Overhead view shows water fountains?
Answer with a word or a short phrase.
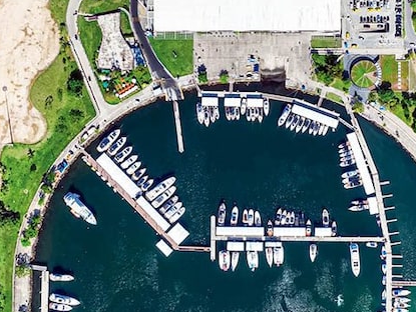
No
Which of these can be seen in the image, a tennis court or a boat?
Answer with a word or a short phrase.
boat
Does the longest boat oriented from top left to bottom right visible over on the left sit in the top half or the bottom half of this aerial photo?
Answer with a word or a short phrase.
bottom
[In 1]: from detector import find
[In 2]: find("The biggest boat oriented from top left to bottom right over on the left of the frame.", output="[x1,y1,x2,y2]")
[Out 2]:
[61,192,96,224]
